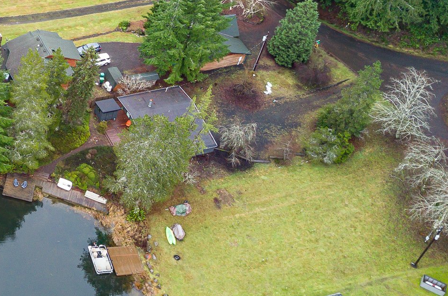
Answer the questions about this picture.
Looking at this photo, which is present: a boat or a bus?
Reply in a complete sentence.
The one in the frame is a boat.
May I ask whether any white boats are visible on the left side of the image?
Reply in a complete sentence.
Yes, you'll find a white boat on the left side of the image.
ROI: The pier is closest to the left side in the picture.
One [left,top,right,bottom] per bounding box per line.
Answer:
[2,173,36,205]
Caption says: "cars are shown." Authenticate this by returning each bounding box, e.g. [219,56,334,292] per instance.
[93,51,115,66]
[78,41,103,56]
